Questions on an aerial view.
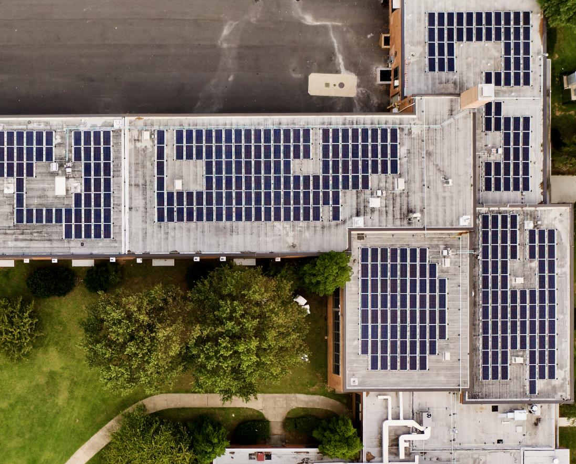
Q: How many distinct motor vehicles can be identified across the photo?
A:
zero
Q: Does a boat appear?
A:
No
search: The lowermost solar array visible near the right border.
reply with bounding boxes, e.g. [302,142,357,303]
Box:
[478,214,559,395]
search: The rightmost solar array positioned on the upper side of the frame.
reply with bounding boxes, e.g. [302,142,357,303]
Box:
[481,101,534,192]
